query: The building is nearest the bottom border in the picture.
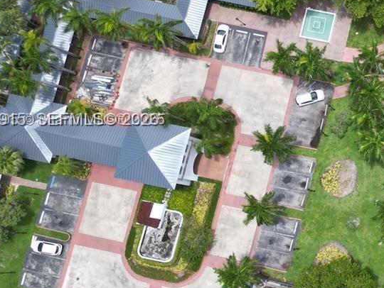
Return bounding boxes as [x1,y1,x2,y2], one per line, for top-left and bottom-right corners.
[138,200,171,228]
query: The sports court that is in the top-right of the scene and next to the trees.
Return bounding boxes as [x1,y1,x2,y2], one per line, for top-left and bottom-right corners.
[300,10,335,42]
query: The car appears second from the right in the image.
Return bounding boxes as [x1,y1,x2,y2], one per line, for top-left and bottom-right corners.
[214,27,231,54]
